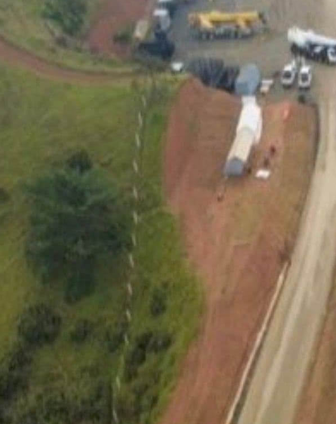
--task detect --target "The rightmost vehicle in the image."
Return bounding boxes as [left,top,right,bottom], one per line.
[294,66,315,88]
